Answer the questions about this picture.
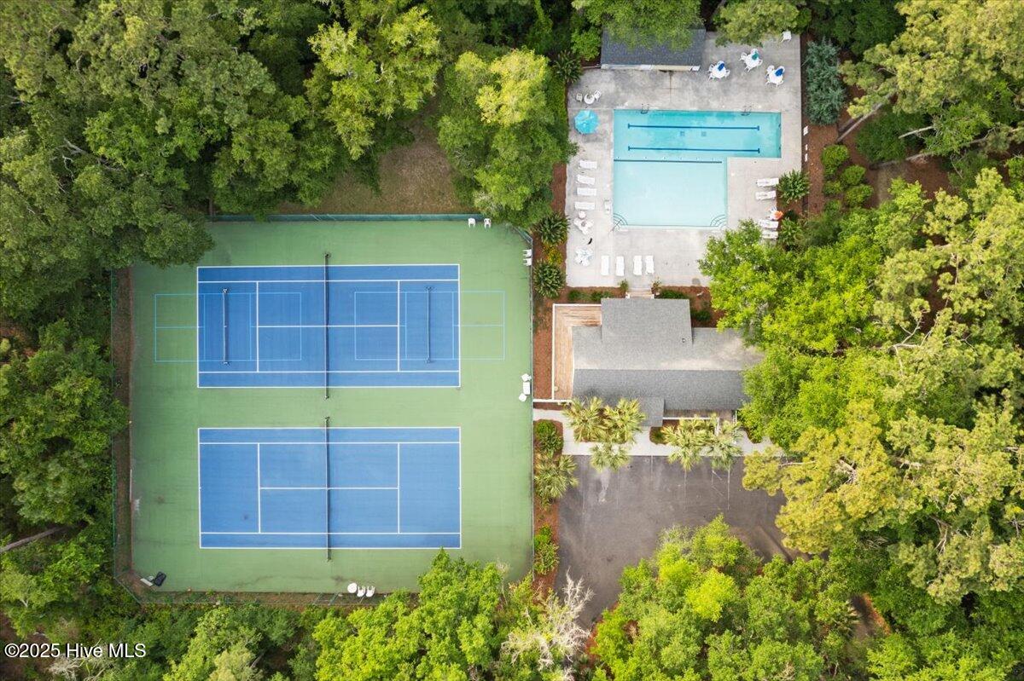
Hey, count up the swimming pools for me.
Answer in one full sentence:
The picture shows just 1 swimming pool.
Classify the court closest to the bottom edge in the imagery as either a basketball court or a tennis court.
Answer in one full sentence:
The court closest to the bottom edge in the image is a tennis court.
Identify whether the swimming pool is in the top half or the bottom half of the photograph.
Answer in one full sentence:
Seen from above, the swimming pool lies in the top half of the view.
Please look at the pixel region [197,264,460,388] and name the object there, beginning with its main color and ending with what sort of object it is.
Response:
blue tennis court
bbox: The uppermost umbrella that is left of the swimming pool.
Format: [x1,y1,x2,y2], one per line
[574,110,598,134]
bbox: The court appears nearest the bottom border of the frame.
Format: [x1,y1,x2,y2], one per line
[198,428,461,549]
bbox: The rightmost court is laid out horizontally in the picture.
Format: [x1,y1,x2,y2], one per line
[355,290,505,360]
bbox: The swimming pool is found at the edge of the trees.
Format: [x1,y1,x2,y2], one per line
[610,101,784,231]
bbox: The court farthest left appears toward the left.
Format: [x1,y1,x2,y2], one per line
[154,292,302,362]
